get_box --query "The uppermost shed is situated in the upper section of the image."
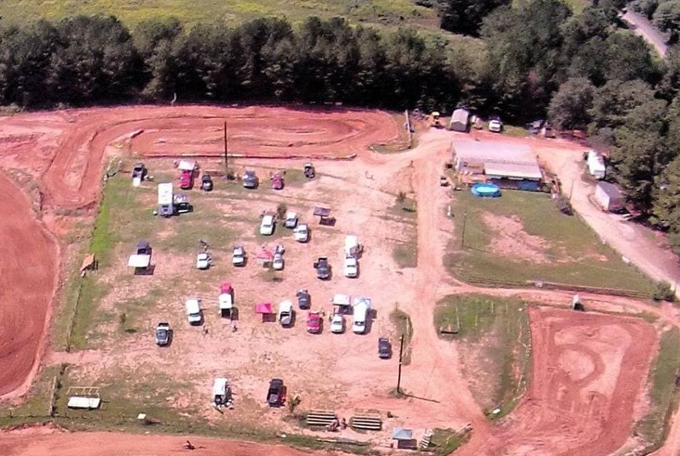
[450,113,469,135]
